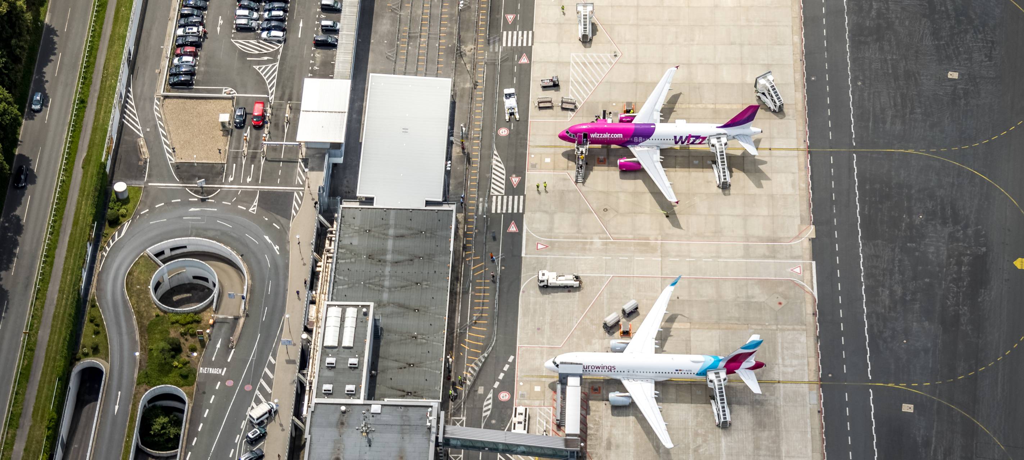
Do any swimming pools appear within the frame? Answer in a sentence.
No, the frame has no swimming pool in it.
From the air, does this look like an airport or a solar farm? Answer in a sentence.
The picture captures an airport.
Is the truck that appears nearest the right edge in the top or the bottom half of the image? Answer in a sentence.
It is in the top half that the truck that appears nearest the right edge appears.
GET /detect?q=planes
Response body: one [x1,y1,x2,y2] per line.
[545,273,766,448]
[559,61,763,202]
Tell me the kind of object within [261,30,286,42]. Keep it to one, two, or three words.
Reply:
vehicle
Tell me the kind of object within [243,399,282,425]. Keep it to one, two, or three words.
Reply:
vehicle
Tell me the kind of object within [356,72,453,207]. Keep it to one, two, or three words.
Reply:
building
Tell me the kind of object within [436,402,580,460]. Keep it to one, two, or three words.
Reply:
jet bridge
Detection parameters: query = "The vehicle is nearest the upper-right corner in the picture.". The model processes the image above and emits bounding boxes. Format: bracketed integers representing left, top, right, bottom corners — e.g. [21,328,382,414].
[751,67,786,114]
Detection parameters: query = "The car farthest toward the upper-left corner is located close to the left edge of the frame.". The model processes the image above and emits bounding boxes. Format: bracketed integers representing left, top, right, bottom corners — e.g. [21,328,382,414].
[30,91,45,112]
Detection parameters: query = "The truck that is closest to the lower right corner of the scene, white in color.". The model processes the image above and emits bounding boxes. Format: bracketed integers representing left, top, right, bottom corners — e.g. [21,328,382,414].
[705,366,734,427]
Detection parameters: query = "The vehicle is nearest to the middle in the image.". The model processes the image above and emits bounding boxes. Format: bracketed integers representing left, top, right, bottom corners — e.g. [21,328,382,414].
[535,269,587,294]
